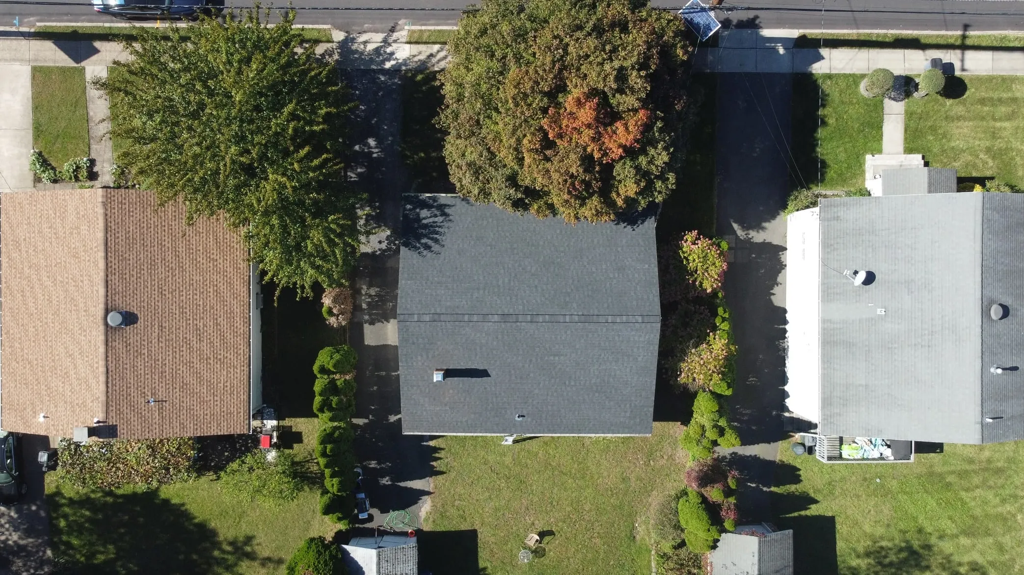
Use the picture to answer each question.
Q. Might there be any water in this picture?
No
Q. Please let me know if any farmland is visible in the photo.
No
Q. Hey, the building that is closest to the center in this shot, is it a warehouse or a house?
house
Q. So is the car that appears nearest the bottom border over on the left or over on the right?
left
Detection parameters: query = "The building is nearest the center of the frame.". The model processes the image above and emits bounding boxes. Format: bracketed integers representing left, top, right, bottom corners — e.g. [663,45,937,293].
[396,192,662,444]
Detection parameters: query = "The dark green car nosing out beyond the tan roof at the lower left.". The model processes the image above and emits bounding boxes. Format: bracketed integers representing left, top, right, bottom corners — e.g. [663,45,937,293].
[0,432,37,506]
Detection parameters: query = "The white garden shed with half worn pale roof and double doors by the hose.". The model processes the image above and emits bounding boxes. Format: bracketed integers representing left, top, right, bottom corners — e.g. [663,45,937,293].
[341,531,421,575]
